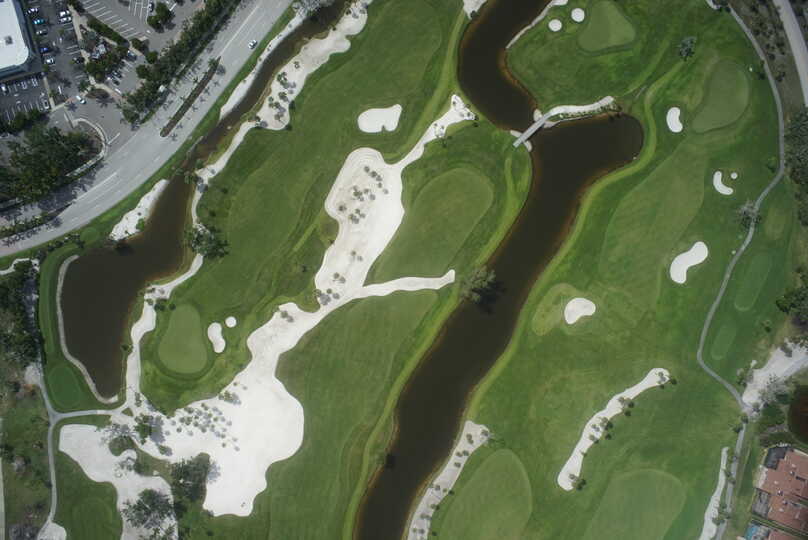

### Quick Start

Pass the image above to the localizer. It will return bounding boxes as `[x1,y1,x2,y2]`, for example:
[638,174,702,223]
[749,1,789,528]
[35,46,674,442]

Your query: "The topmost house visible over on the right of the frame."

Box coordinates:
[752,445,808,506]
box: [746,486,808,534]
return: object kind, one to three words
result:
house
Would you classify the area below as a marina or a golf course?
golf course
